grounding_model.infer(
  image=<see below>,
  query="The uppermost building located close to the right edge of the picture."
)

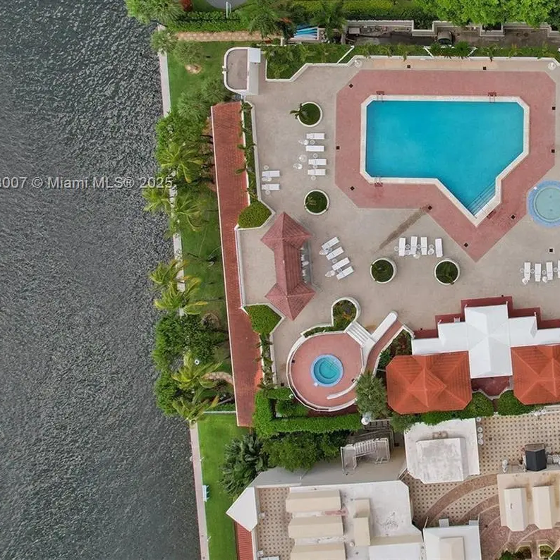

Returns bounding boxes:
[386,301,560,414]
